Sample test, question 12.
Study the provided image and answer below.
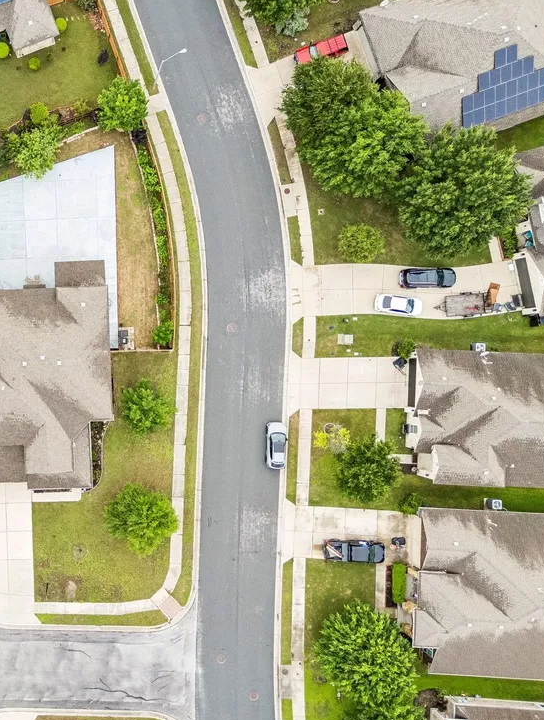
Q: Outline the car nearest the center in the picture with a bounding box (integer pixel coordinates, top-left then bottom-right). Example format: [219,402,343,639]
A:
[264,421,289,469]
